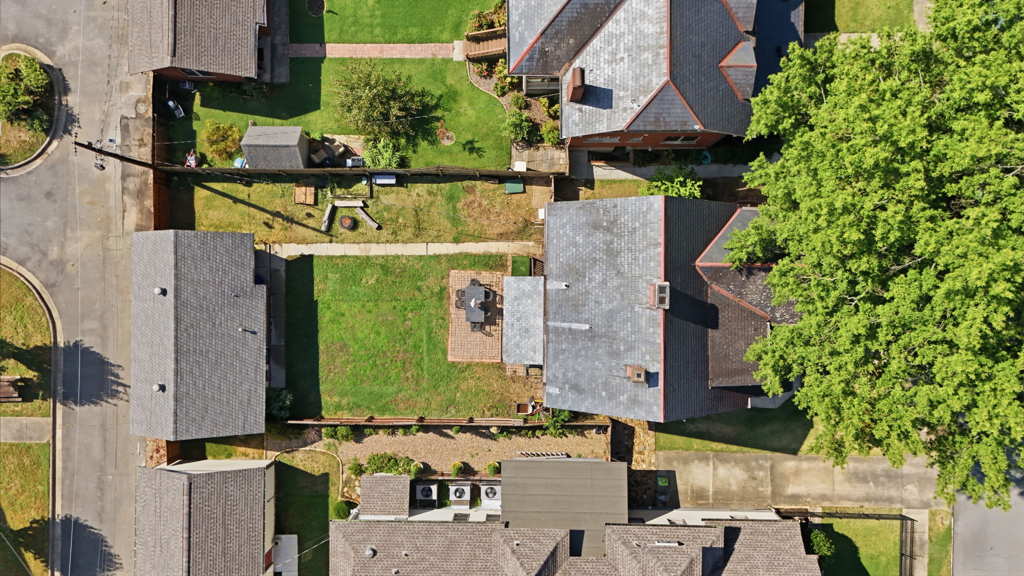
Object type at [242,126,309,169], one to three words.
shed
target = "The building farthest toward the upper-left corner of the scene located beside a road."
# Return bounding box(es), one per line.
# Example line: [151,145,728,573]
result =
[128,0,270,82]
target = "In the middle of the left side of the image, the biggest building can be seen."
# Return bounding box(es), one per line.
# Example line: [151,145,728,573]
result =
[130,230,271,441]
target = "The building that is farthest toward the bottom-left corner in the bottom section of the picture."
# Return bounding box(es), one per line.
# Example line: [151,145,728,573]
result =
[133,459,284,576]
